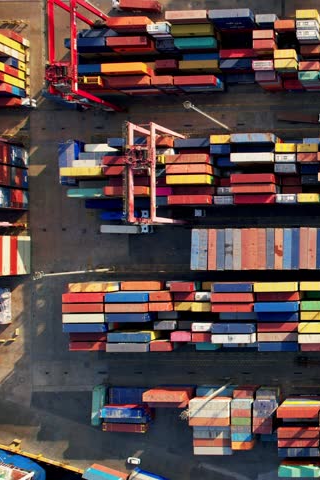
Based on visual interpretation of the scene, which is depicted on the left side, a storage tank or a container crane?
container crane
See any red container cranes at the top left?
Yes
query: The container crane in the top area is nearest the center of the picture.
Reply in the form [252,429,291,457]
[121,115,195,226]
